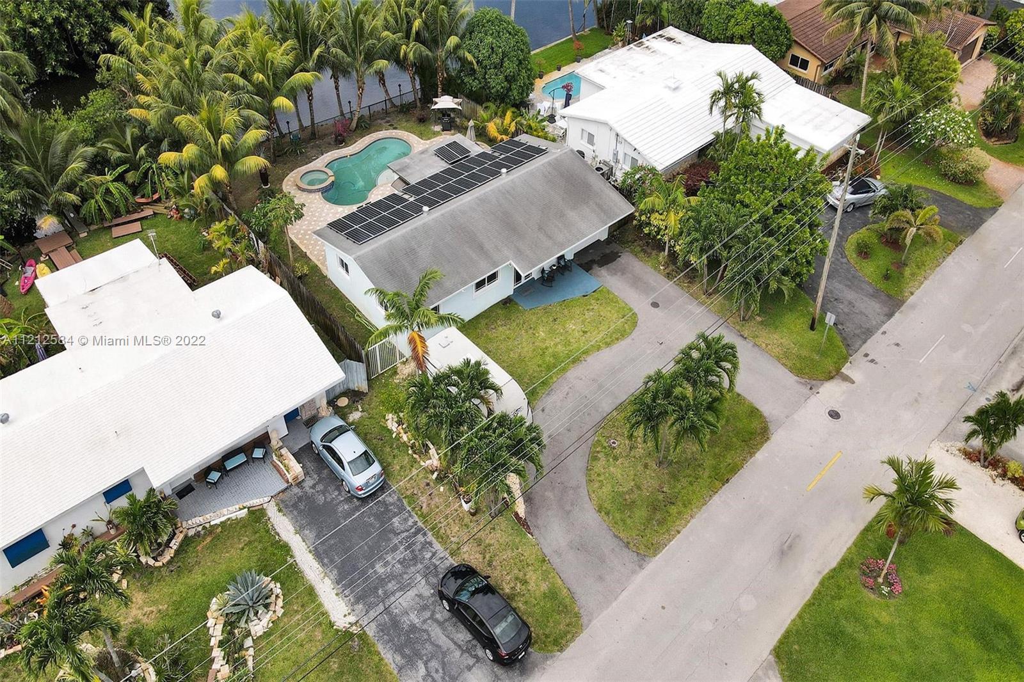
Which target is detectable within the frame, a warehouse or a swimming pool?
swimming pool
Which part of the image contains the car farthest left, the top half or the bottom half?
bottom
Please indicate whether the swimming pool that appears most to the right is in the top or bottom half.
top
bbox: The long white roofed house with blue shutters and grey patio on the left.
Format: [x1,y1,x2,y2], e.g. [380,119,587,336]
[0,239,346,593]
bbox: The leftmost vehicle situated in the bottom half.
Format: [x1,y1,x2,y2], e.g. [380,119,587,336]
[309,414,387,500]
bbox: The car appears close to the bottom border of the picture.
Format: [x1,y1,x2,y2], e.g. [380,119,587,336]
[440,562,536,671]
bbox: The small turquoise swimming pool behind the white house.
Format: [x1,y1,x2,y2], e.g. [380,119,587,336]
[539,60,598,99]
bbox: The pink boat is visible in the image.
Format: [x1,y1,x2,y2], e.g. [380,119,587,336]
[18,255,35,291]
